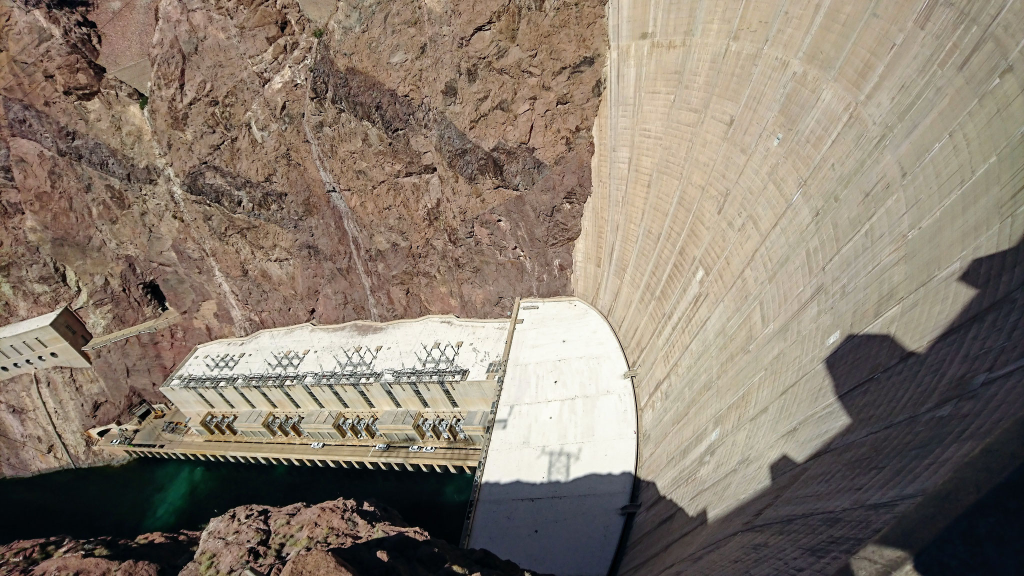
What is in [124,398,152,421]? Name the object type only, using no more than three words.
shed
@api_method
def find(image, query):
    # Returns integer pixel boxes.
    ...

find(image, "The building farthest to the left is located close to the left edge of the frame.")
[0,303,103,384]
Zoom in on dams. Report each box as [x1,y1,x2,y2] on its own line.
[487,0,1024,576]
